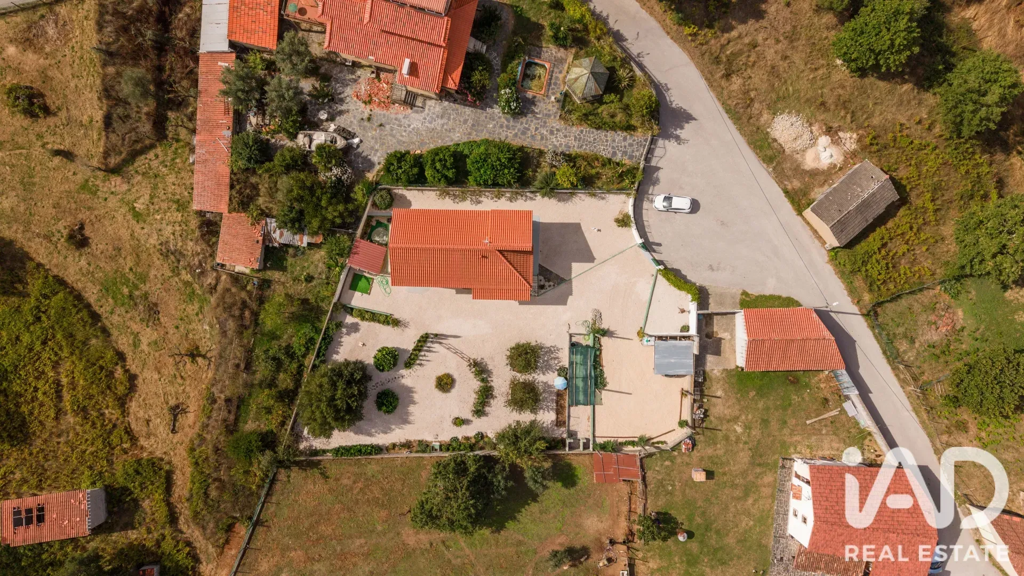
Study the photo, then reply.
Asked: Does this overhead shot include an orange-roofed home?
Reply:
Yes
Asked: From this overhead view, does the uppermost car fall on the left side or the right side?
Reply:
right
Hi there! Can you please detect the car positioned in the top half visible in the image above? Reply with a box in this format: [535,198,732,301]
[655,193,694,214]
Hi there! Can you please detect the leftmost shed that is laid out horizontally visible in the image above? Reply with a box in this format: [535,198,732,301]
[0,483,106,545]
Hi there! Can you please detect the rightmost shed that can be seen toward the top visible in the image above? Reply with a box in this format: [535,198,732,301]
[806,160,900,247]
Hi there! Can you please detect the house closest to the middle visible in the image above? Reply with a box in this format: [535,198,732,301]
[389,209,540,302]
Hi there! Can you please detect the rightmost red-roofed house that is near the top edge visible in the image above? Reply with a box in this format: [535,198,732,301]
[286,0,487,106]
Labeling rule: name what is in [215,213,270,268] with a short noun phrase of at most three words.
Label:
shed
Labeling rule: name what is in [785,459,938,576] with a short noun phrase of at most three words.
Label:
house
